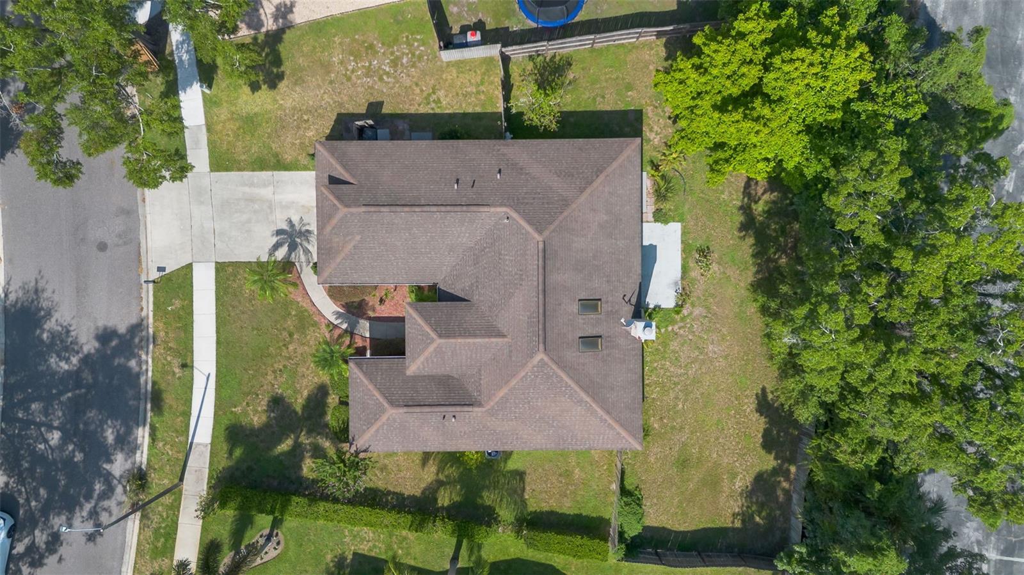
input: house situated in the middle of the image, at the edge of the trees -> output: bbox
[315,137,656,452]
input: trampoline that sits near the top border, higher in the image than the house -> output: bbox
[517,0,584,31]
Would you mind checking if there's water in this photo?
No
